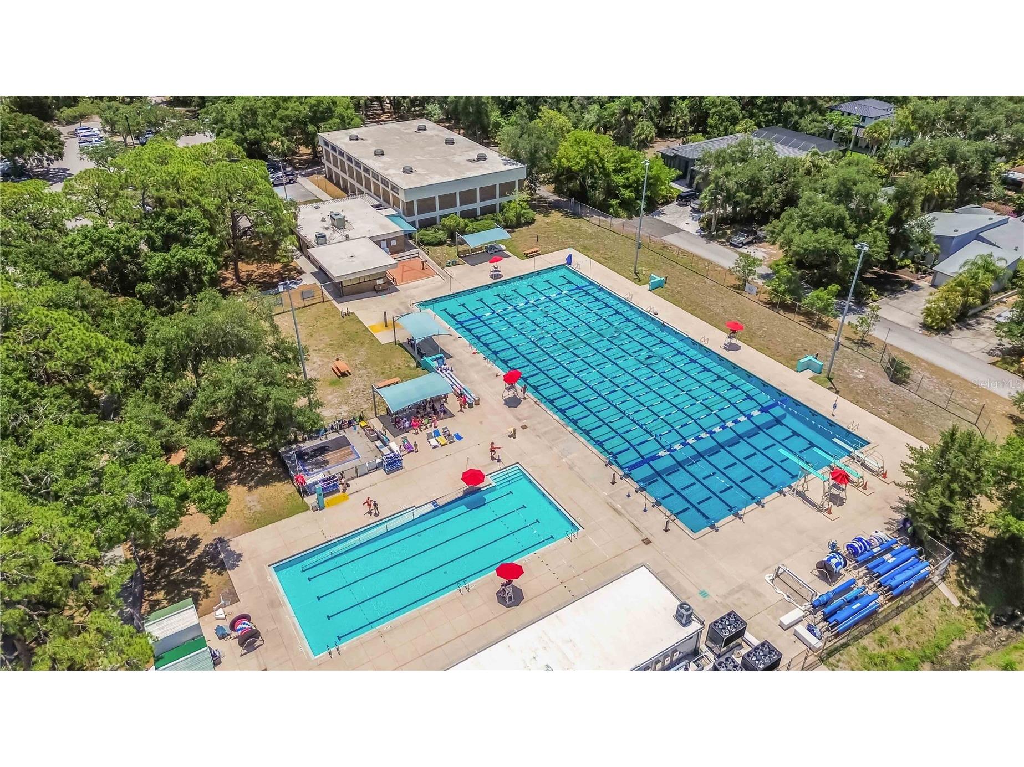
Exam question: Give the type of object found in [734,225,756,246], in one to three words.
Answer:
car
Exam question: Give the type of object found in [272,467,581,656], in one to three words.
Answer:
swimming pool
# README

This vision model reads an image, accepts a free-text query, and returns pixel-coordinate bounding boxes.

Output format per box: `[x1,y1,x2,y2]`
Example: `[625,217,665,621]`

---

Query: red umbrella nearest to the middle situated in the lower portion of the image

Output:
[454,464,483,488]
